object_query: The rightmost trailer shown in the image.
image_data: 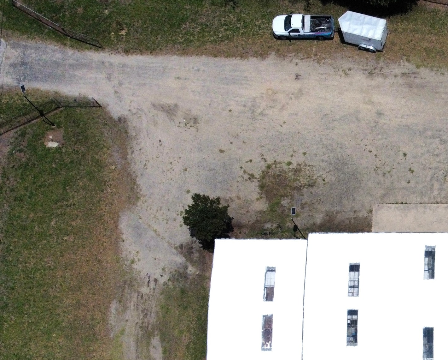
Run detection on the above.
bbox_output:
[337,11,389,50]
